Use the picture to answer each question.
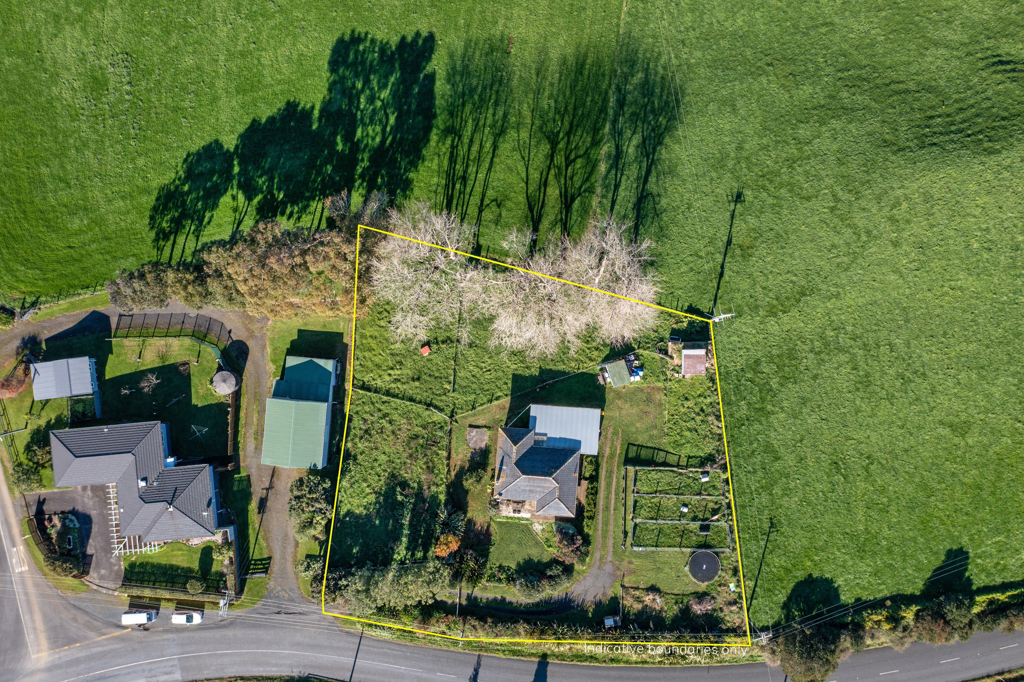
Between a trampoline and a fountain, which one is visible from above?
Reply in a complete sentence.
Of the two, only a trampoline appears.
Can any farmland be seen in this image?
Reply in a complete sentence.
Yes, there's farmland in this view.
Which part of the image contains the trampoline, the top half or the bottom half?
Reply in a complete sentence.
The trampoline is in the bottom half of the image.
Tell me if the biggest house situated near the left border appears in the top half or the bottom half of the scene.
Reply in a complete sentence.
The biggest house situated near the left border is in the bottom half of the image.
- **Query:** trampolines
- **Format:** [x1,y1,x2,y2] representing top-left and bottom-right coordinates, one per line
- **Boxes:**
[688,551,721,584]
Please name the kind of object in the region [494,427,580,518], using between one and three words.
house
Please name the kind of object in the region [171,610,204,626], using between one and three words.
car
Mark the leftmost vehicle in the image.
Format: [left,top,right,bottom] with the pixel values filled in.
[122,609,159,625]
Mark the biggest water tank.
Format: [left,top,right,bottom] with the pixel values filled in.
[213,371,239,394]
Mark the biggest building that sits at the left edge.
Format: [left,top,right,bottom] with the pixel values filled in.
[49,421,219,543]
